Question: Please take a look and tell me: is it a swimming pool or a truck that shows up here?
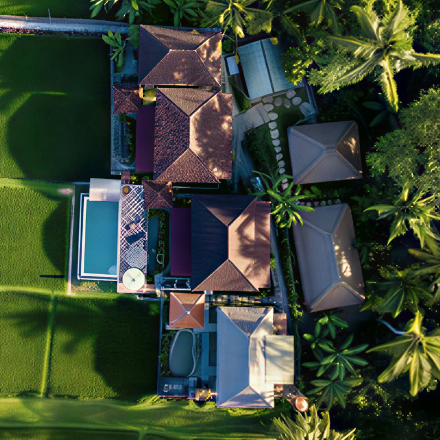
swimming pool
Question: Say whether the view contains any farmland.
Yes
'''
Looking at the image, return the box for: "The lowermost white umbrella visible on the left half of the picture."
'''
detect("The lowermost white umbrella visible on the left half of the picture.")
[123,267,145,290]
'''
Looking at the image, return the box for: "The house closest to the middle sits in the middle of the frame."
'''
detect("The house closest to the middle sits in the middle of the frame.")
[191,193,271,292]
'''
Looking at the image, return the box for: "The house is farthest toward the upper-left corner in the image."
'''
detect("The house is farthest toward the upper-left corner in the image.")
[139,25,223,87]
